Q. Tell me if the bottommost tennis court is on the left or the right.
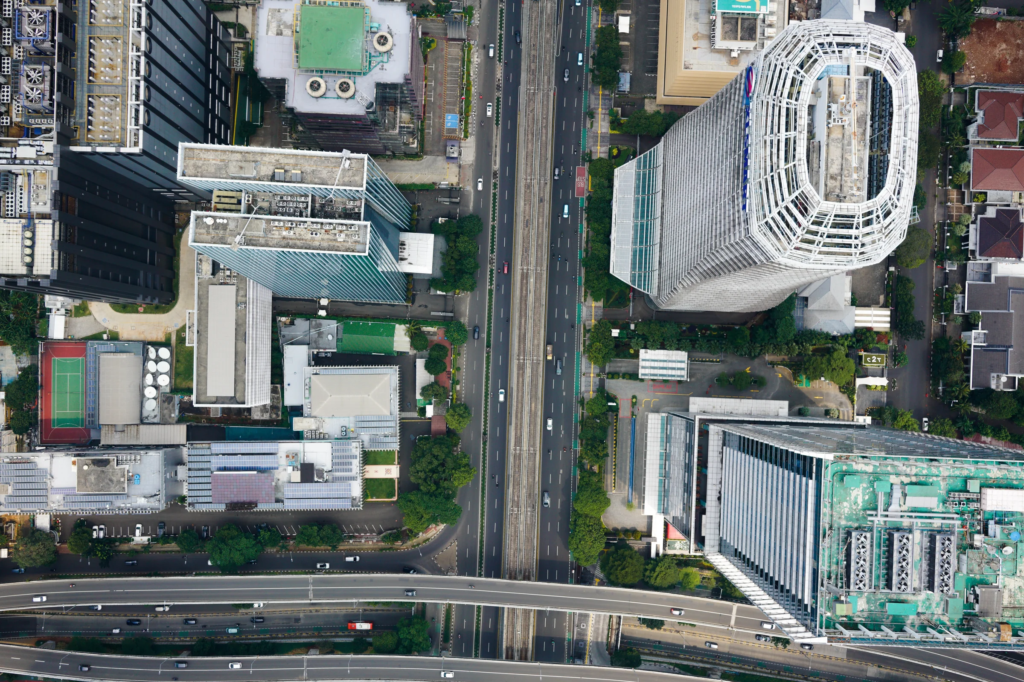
left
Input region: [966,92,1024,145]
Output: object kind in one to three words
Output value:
house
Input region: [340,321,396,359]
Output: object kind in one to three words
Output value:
shed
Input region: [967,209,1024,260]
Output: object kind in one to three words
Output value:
house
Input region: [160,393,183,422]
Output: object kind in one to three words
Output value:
shed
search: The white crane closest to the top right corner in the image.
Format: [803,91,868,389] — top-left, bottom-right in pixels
[824,49,863,195]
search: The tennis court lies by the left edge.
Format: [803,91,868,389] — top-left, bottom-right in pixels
[32,342,98,444]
